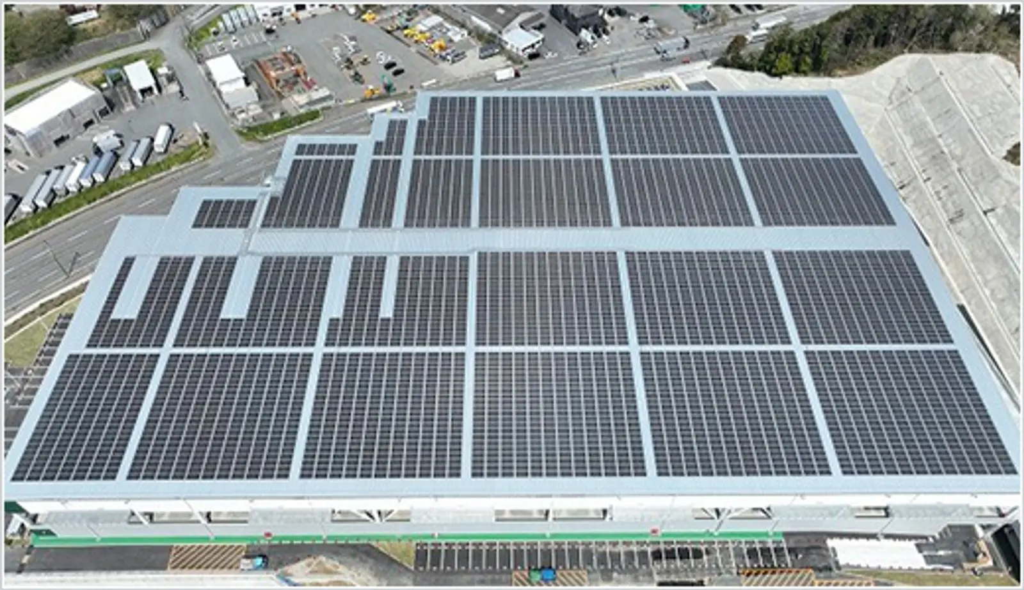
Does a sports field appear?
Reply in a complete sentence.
No, the frame has no sports field in it.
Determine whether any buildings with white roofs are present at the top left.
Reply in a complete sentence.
Yes, a building with a white roof appears at the top left.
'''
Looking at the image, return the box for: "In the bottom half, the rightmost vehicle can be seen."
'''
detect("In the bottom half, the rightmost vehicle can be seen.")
[530,568,556,583]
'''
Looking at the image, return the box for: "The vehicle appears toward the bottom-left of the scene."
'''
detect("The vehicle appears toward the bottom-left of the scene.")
[239,555,267,570]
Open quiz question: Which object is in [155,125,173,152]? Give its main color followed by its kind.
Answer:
white vehicle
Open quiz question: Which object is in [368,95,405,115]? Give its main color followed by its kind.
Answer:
white vehicle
